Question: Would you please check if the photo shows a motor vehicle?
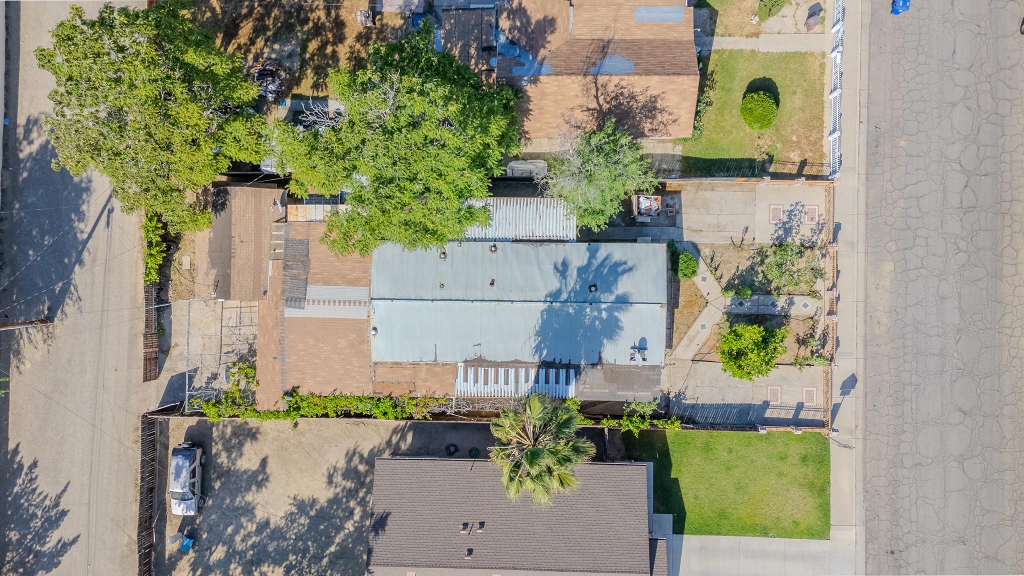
Yes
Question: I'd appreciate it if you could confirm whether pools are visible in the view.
No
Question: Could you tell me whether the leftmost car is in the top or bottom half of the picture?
bottom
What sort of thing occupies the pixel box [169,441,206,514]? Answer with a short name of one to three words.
car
